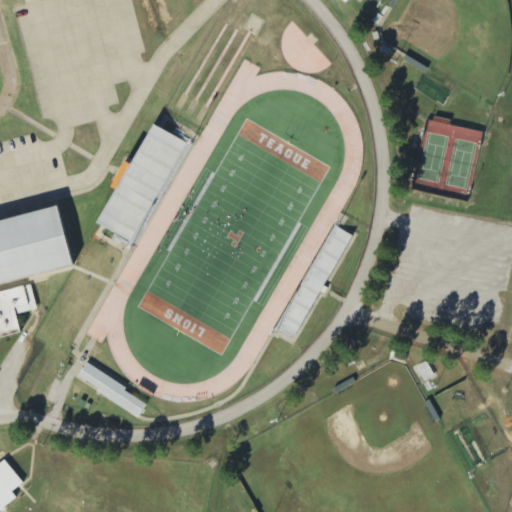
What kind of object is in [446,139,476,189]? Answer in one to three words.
tennis court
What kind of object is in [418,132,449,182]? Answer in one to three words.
tennis court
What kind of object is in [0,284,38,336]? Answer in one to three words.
building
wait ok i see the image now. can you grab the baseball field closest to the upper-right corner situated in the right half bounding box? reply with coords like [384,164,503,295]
[392,0,458,58]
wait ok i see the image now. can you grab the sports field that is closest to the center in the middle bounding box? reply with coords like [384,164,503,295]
[124,90,345,384]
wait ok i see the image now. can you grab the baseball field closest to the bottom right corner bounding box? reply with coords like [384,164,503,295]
[328,376,430,472]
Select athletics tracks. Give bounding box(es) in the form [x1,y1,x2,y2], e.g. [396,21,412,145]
[86,59,363,402]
